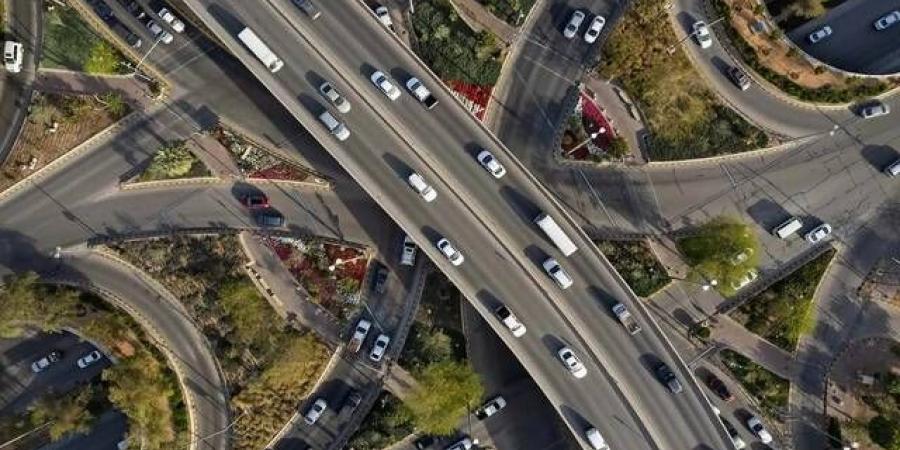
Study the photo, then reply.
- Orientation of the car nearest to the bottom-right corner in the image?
on a diagonal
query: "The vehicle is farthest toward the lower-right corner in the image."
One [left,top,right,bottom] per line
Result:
[745,416,769,442]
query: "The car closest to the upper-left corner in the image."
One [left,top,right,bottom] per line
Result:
[4,42,22,71]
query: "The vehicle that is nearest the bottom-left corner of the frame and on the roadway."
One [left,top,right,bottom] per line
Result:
[33,351,62,371]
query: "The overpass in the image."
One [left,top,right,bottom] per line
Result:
[175,0,742,450]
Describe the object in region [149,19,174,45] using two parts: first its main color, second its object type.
gray car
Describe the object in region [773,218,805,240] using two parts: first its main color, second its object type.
white vehicle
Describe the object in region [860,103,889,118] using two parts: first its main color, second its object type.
gray car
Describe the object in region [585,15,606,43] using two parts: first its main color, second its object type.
white car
